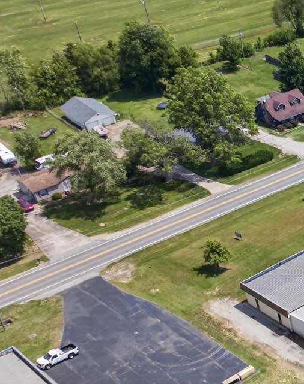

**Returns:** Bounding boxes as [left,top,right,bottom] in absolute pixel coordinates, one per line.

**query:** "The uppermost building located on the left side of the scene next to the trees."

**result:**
[67,92,123,131]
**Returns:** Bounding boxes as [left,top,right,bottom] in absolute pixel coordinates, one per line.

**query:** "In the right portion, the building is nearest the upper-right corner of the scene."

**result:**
[250,89,304,128]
